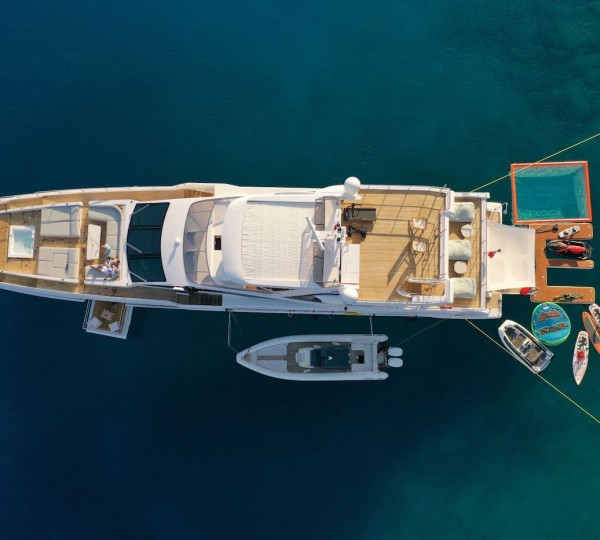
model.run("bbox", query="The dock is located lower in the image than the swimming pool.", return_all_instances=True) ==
[528,223,595,303]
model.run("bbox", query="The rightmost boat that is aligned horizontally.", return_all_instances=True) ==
[547,240,596,260]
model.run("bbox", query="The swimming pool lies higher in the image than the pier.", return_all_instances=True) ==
[510,162,592,223]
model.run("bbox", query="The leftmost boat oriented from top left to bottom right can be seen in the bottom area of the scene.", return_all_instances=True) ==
[500,321,558,376]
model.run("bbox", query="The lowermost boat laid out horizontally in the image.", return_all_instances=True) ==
[237,334,403,381]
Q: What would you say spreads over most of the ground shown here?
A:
water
